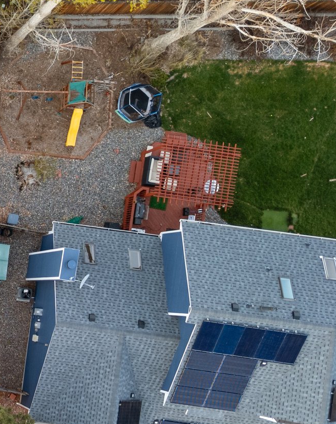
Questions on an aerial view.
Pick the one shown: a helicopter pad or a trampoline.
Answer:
trampoline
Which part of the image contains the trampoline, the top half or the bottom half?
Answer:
top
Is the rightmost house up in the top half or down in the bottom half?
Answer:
bottom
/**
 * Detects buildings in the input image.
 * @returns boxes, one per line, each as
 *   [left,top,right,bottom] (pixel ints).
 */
[17,218,336,424]
[0,241,12,283]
